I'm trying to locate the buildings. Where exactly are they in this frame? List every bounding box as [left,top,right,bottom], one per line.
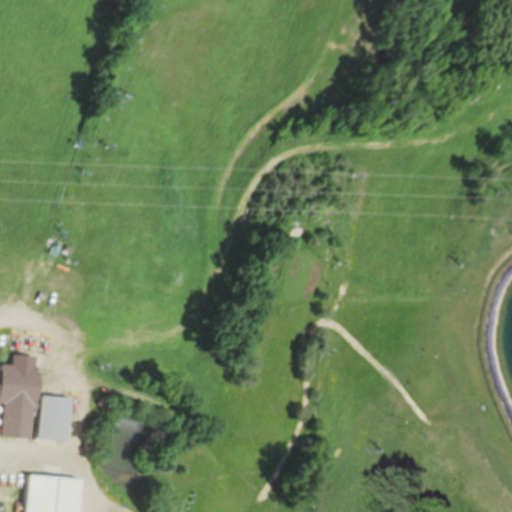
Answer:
[0,352,42,440]
[38,395,73,442]
[26,474,84,512]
